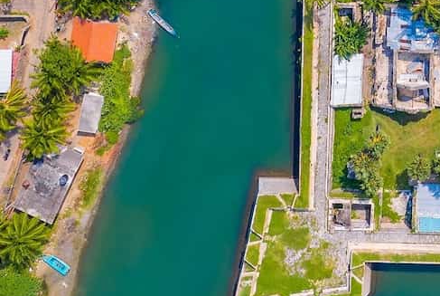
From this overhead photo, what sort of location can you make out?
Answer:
residential area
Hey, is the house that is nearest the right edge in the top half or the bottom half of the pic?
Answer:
bottom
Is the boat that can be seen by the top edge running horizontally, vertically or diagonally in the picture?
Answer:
diagonally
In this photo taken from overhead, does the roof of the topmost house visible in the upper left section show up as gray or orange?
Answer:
orange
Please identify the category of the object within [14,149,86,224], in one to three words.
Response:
house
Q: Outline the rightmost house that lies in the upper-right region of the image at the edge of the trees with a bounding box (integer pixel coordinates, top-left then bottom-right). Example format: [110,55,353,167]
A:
[372,7,440,116]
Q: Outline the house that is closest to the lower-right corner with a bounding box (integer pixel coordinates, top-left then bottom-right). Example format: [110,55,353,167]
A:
[416,180,440,231]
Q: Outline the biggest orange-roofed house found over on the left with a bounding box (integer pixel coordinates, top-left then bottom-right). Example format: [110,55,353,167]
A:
[72,17,120,63]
